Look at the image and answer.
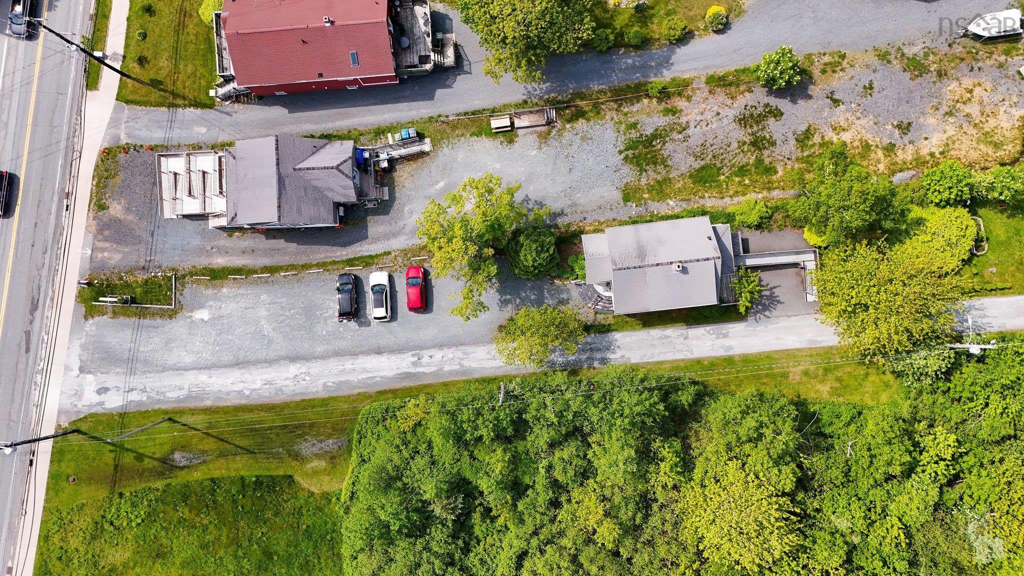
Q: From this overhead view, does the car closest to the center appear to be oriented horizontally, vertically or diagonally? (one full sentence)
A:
The car closest to the center is laid out vertically.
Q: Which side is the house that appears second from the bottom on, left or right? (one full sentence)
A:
The house that appears second from the bottom sits on the left side.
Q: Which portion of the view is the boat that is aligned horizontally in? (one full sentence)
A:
The boat that is aligned horizontally is in the top right part of the image.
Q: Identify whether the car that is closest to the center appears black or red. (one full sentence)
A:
In this view, the car that is closest to the center is red.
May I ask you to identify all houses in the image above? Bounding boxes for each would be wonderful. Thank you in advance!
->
[224,136,362,228]
[220,0,402,97]
[581,216,744,315]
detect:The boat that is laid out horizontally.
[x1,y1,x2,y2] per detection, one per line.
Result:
[963,13,1024,39]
